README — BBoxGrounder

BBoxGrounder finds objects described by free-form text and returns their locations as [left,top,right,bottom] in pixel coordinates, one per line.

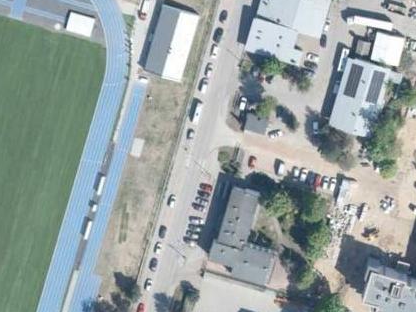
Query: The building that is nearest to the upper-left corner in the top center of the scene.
[143,1,200,82]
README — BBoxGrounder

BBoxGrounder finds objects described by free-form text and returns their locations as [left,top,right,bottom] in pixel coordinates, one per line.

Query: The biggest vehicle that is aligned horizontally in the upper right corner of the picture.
[347,15,393,33]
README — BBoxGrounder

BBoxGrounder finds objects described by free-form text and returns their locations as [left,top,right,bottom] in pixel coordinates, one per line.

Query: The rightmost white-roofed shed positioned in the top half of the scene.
[370,29,407,67]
